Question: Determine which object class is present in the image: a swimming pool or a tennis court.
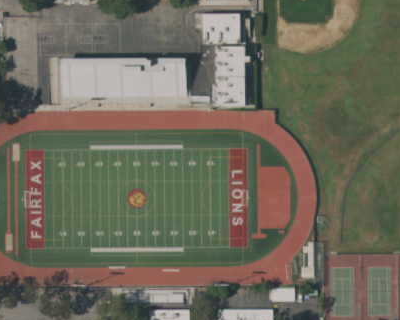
tennis court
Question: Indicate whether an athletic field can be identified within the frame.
Yes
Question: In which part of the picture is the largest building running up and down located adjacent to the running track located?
top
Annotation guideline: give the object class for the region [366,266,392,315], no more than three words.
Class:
tennis court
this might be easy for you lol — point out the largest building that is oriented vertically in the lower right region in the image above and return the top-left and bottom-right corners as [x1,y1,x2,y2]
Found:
[301,242,314,278]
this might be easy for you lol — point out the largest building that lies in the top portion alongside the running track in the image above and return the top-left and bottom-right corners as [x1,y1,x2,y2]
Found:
[216,44,246,106]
